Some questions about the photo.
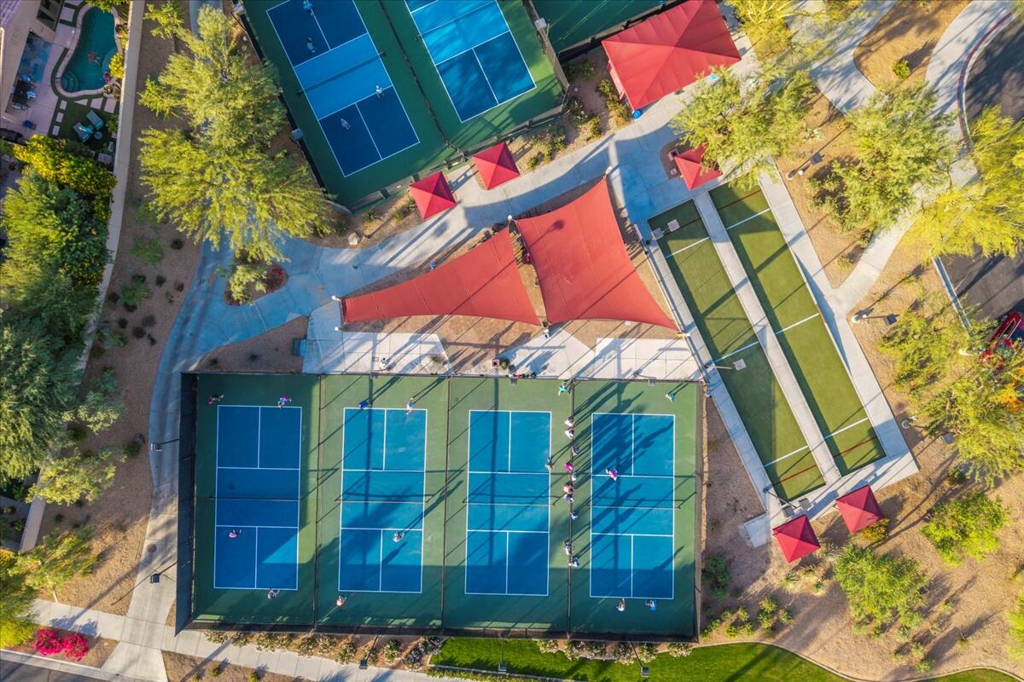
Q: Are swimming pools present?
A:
Yes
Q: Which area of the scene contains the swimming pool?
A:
top left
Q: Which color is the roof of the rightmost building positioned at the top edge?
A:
red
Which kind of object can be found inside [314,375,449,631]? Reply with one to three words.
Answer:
sports court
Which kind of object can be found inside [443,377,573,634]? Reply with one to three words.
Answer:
sports court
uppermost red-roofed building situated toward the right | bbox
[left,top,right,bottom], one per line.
[601,0,740,112]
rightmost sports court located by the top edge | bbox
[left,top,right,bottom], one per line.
[535,0,683,58]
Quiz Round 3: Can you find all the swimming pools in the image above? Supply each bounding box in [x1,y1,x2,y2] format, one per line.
[57,5,122,96]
